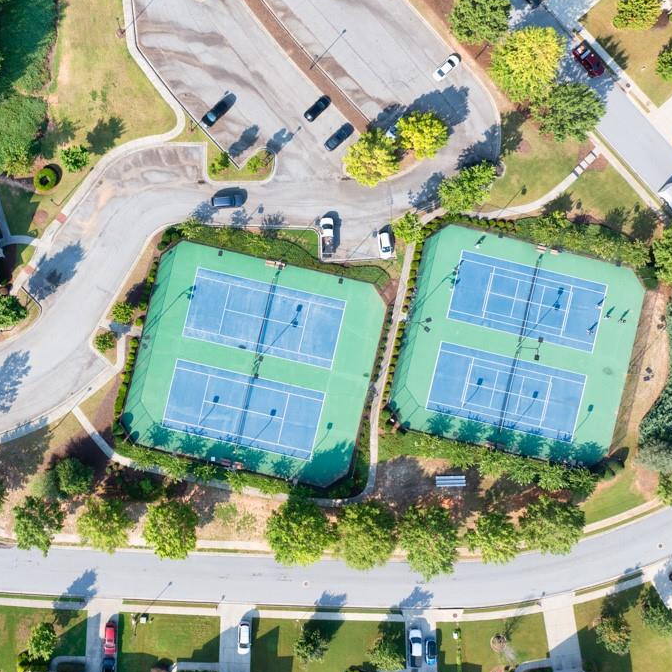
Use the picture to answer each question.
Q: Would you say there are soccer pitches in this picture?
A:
No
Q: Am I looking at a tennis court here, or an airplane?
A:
tennis court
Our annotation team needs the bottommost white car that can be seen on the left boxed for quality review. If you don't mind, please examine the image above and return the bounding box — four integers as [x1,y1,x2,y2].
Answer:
[238,621,251,653]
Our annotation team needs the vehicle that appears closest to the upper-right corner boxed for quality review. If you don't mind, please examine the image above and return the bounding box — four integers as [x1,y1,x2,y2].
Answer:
[573,40,605,77]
